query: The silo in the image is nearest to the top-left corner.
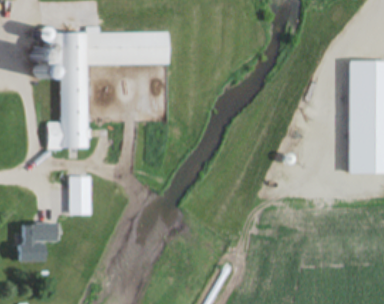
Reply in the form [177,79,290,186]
[32,26,56,42]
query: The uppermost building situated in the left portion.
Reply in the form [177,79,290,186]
[45,26,171,151]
